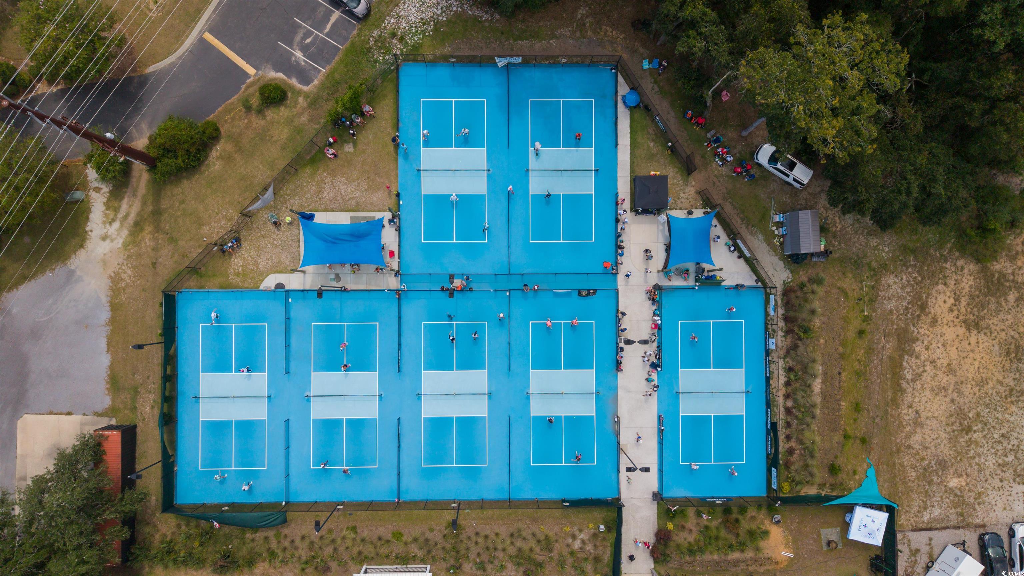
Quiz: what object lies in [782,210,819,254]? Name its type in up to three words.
shed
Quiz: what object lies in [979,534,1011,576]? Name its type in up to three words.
car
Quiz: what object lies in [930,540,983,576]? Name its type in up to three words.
trailer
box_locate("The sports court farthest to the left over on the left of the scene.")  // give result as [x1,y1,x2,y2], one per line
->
[175,291,288,503]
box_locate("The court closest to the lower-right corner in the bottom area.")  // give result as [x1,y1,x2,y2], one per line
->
[658,286,766,497]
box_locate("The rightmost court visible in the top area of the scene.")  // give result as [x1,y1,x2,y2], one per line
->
[509,66,618,273]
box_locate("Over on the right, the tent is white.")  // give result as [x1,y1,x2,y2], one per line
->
[837,504,889,546]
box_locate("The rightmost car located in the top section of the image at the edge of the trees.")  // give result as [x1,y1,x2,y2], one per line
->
[754,143,813,188]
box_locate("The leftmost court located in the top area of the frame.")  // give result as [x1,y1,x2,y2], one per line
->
[399,65,509,273]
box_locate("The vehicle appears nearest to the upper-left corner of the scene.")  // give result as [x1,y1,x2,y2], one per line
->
[331,0,376,23]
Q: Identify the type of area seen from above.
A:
sports ground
